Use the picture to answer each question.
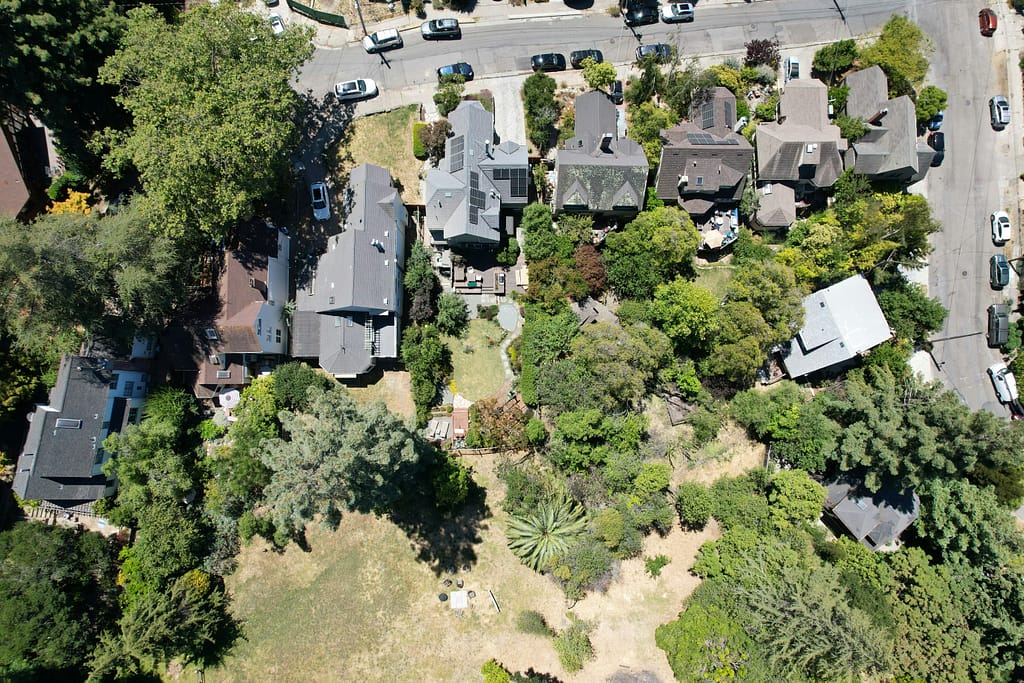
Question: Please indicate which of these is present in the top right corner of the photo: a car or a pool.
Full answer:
What appears in the top right corner of the photo is a car.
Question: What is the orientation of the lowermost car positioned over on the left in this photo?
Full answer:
The lowermost car positioned over on the left is oriented vertically.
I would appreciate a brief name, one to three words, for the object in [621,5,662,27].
car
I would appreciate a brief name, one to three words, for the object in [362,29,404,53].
car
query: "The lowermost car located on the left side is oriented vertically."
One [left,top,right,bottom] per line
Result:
[311,182,331,221]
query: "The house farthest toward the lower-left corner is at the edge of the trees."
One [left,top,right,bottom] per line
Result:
[12,353,147,499]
